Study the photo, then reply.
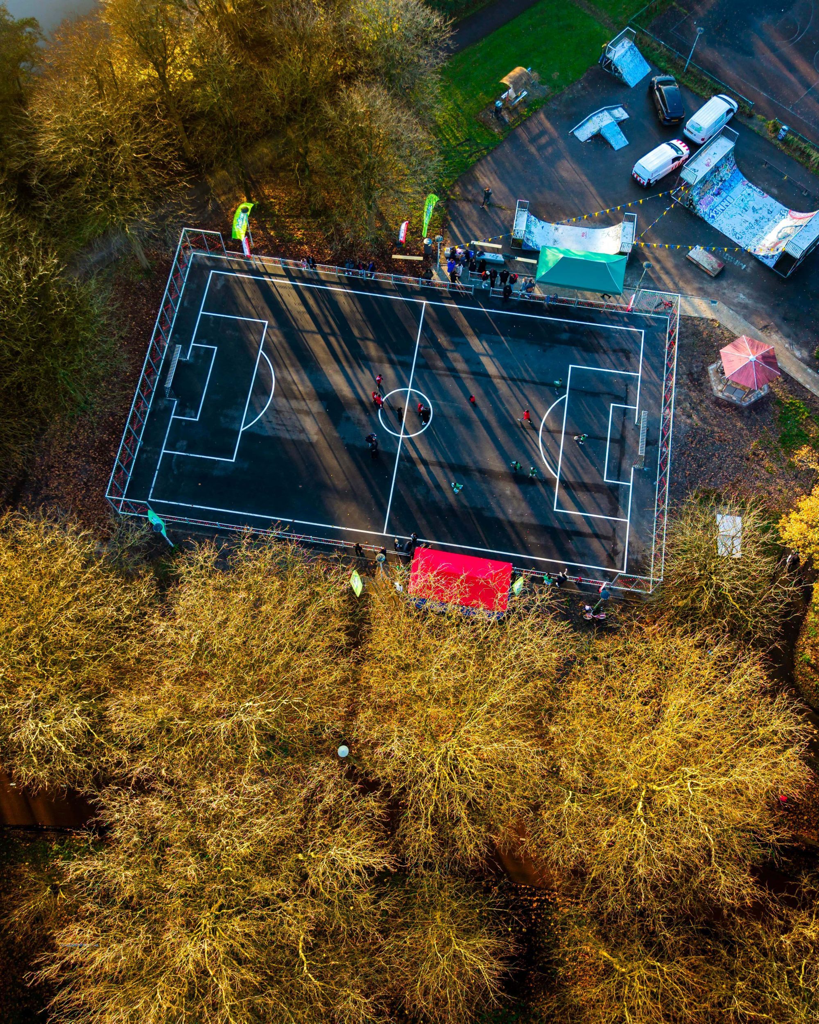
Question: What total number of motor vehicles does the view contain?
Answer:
three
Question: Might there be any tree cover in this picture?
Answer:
Yes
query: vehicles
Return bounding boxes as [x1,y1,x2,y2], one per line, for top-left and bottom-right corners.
[682,93,745,148]
[649,74,687,127]
[631,139,690,189]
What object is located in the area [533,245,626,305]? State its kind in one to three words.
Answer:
gazebo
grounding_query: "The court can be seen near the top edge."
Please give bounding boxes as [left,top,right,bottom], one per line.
[647,0,819,150]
